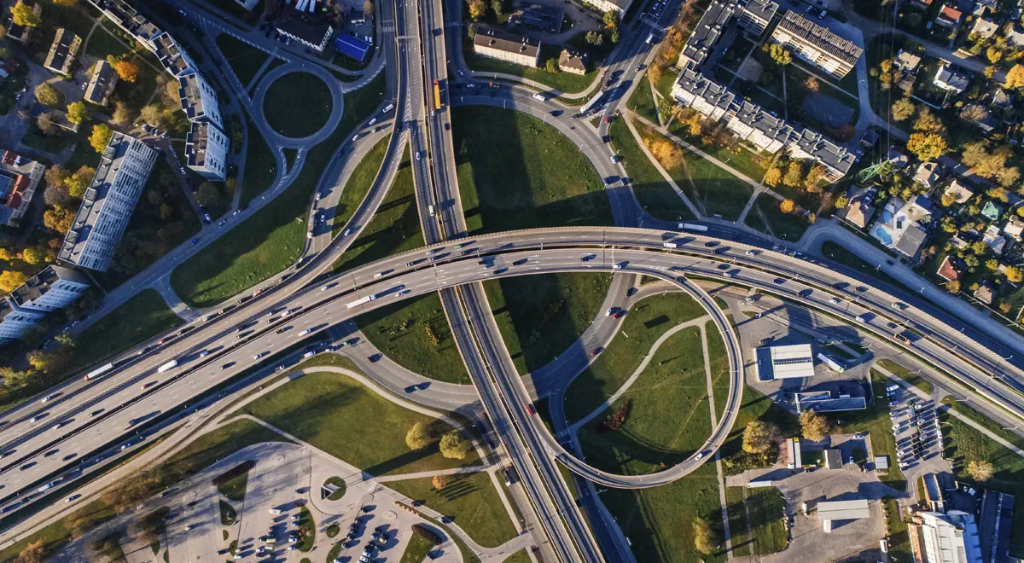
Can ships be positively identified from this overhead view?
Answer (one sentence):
No, I find no ship anywhere in the image.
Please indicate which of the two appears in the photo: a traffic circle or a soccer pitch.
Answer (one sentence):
Looking from above, you can make out a traffic circle.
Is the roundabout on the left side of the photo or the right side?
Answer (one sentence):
It is on the left.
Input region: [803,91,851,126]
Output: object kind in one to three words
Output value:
sports court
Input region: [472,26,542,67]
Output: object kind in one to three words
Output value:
building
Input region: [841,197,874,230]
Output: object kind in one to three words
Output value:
house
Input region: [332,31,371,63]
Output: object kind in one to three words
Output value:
shed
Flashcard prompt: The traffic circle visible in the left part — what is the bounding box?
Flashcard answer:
[251,58,345,152]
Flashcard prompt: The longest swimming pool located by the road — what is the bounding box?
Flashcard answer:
[875,226,894,246]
